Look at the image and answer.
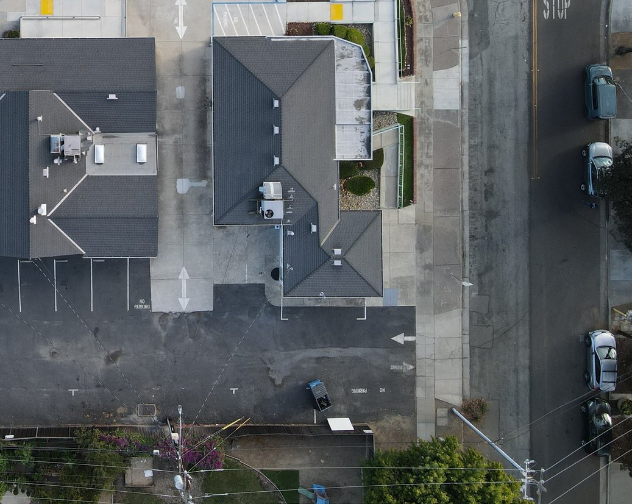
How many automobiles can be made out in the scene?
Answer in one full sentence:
The photo contains 4 automobiles.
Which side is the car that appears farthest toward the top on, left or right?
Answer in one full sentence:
The car that appears farthest toward the top sits on the right side.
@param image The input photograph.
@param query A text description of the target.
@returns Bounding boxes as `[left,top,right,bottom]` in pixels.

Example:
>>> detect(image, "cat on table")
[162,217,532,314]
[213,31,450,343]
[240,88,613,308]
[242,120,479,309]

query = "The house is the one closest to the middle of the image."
[211,35,384,299]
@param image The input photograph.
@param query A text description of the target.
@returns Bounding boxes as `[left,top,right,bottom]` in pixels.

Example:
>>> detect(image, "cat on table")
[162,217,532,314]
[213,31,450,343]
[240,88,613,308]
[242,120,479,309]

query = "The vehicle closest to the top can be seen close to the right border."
[584,63,618,119]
